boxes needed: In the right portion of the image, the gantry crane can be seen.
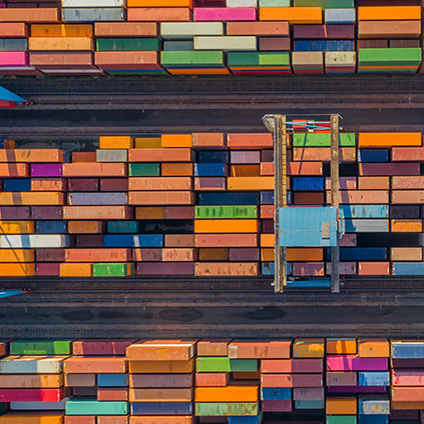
[268,109,346,288]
